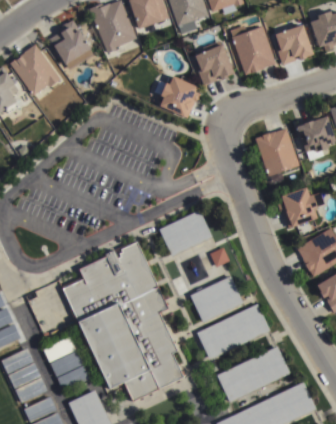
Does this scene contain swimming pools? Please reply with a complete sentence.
Yes, the picture does show a swimming pool.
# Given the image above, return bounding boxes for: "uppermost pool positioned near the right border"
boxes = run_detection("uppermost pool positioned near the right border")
[311,158,332,173]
